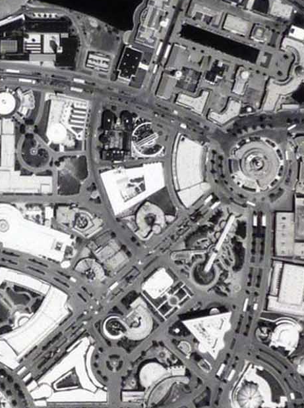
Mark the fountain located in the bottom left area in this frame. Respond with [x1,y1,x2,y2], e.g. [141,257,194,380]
[13,311,32,327]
